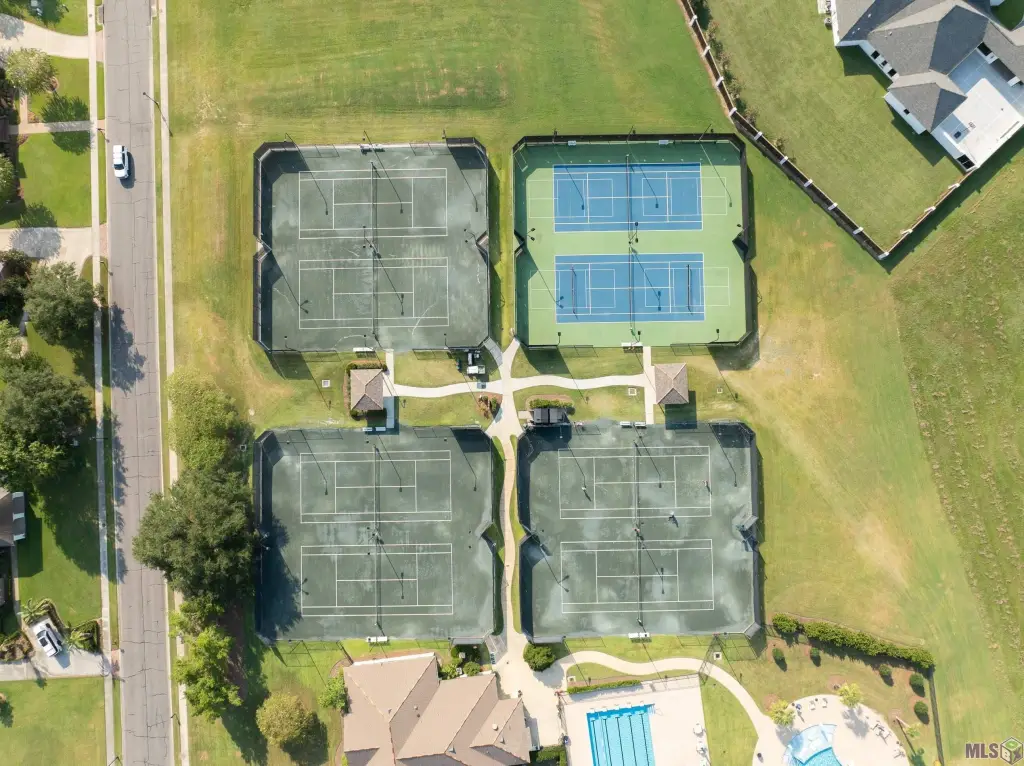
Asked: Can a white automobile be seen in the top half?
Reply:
Yes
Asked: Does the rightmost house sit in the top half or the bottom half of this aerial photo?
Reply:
top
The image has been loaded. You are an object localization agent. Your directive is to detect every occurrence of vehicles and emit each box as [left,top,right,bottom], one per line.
[111,145,130,180]
[467,364,487,373]
[34,621,61,657]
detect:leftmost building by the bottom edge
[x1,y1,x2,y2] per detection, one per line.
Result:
[343,651,530,766]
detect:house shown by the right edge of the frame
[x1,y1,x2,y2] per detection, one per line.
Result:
[835,0,1024,176]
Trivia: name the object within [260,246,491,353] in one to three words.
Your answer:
tennis court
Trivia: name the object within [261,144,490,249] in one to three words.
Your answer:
tennis court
